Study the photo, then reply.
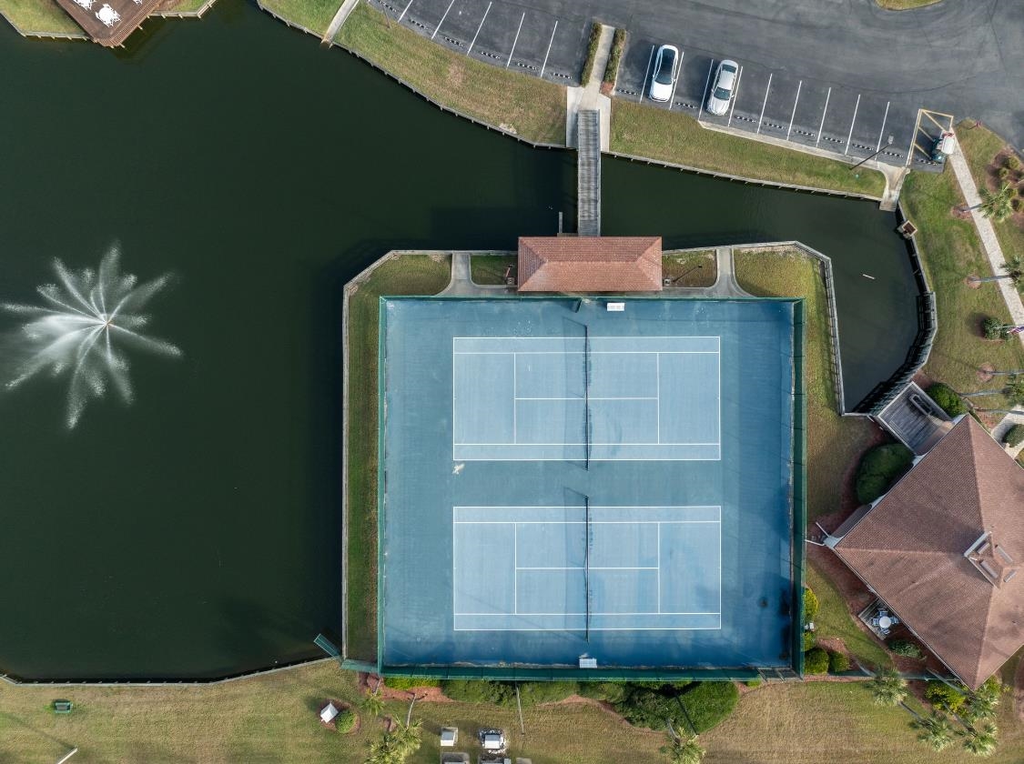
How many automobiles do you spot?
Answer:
2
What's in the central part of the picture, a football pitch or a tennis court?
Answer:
tennis court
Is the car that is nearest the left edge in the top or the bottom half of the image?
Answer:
top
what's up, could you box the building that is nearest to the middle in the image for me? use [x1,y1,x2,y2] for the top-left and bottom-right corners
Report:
[517,236,663,295]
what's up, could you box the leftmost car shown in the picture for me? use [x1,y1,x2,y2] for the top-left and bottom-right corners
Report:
[650,43,680,104]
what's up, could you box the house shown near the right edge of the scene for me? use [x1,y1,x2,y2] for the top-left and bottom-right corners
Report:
[806,414,1024,686]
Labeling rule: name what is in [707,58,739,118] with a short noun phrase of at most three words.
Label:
car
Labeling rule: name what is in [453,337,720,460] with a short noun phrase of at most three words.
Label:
tennis court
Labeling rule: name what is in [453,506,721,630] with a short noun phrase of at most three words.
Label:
tennis court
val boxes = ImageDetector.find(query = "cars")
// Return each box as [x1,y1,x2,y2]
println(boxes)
[650,43,680,104]
[707,58,739,118]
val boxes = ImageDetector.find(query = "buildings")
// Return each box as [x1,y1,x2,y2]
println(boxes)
[517,236,663,295]
[806,414,1024,686]
[321,703,339,722]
